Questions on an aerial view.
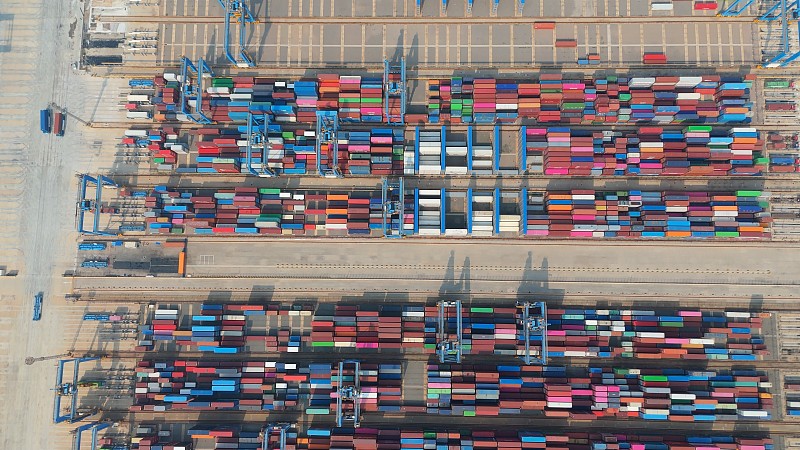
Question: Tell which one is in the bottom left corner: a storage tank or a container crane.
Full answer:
Looking in the bottom left corner, you will find a container crane.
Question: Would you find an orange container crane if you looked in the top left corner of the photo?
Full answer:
No, in the top left corner of the photo there is no orange container crane.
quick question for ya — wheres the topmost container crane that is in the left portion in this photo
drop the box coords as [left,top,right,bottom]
[221,0,261,67]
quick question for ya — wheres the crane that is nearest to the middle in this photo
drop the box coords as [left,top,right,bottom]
[379,173,409,239]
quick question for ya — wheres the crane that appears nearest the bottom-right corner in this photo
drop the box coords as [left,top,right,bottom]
[512,301,548,366]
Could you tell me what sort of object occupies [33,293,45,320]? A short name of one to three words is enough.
vehicle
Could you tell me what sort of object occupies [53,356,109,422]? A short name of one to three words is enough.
container crane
